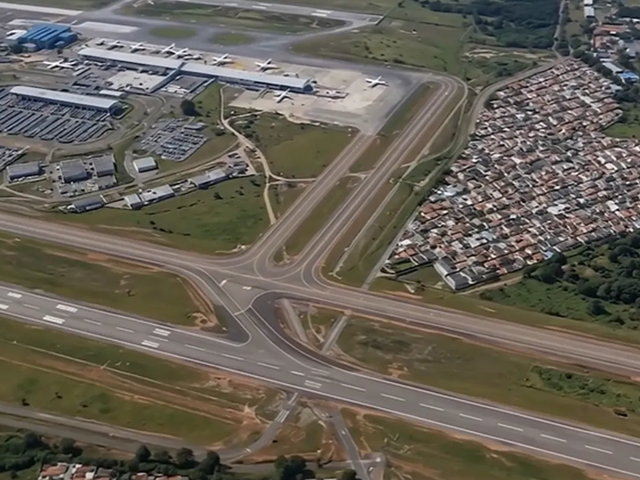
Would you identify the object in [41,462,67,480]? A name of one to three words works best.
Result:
house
